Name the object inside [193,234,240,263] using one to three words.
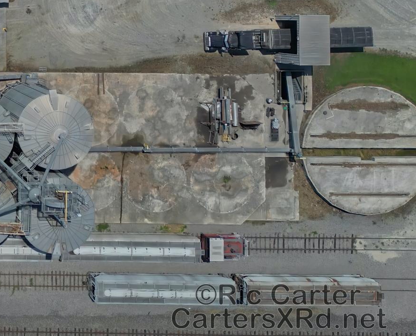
rail car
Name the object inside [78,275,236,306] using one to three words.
rail car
